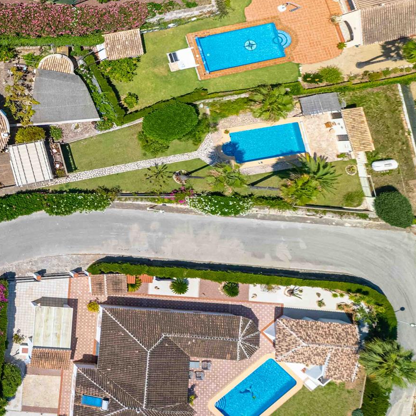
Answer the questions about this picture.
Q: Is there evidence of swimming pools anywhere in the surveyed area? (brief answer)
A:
Yes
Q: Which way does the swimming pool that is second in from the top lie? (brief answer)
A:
from side to side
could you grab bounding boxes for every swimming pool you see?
[197,23,291,72]
[223,123,307,163]
[215,359,297,416]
